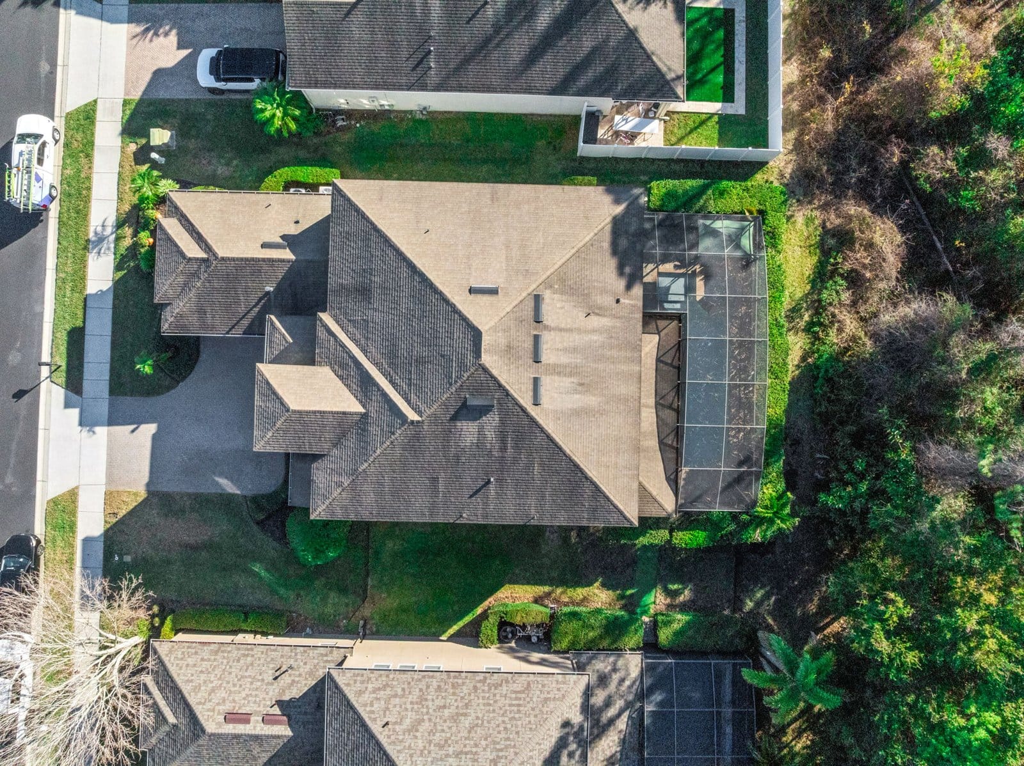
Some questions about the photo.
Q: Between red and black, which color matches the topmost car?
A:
black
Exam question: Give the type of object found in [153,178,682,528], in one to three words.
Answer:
house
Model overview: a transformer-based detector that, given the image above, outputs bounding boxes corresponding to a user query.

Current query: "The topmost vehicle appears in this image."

[195,45,284,93]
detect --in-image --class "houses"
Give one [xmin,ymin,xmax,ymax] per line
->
[138,631,644,766]
[278,0,686,117]
[153,178,682,528]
